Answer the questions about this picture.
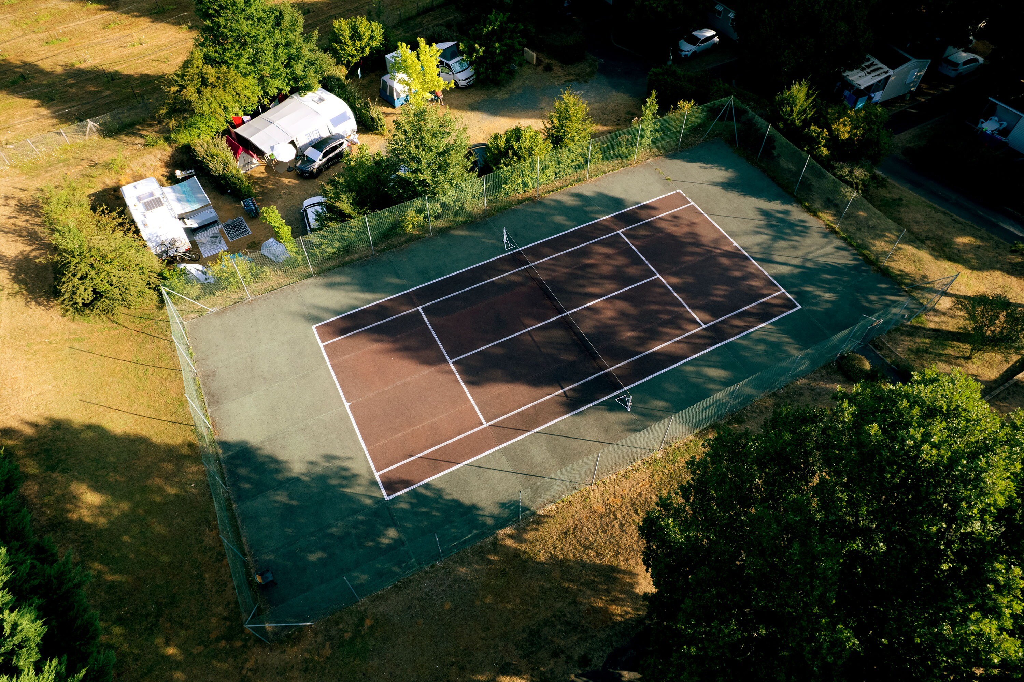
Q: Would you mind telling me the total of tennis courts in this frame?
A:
1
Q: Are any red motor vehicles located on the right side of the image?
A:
No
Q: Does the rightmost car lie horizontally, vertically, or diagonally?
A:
horizontally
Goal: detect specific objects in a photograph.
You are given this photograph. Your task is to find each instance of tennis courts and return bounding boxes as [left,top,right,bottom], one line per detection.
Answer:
[185,140,932,643]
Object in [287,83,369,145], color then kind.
white camper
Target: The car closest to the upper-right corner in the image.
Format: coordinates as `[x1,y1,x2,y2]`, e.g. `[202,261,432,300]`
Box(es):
[929,48,992,78]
